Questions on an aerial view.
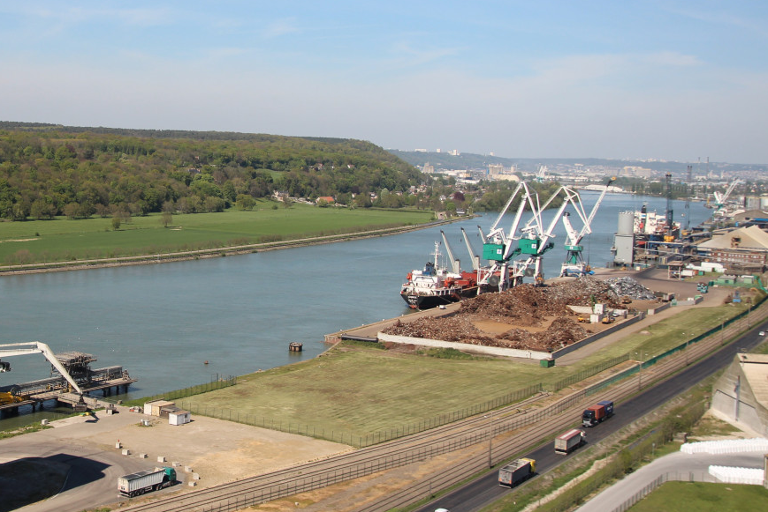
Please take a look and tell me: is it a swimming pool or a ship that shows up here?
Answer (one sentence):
There is a ship in the scene.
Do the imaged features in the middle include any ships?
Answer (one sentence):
Yes, a ship shows up in the middle.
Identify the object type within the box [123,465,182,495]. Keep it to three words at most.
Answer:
truck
